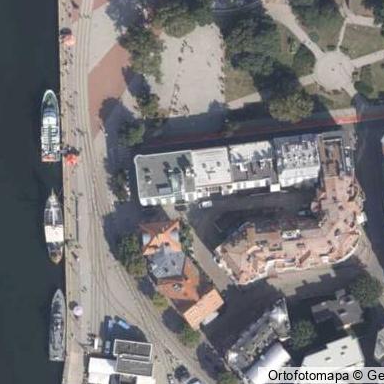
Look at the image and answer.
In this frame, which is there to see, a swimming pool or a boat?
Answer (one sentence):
The image shows a boat.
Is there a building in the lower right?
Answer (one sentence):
Yes, in the lower right there is a building.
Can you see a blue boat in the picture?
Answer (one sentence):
No, there appears to be no blue boat in this shot.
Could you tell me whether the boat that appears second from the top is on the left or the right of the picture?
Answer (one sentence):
The boat that appears second from the top is on the left side of the image.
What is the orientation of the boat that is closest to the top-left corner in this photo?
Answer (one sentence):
In this picture, the boat that is closest to the top-left corner is oriented from top to bottom.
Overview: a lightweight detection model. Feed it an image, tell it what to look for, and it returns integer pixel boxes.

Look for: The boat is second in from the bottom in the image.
[45,184,67,265]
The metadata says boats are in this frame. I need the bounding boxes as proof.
[50,288,70,361]
[41,90,64,163]
[45,184,67,265]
